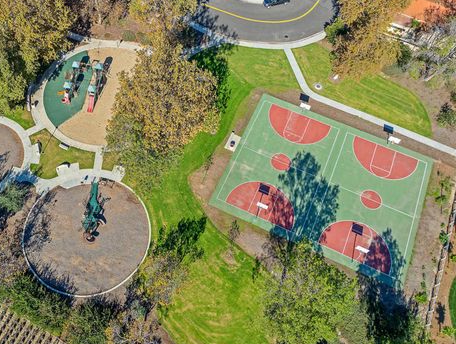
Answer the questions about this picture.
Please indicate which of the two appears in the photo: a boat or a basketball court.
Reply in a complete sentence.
There is a basketball court in the scene.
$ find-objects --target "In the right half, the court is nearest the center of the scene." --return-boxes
[210,94,344,246]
